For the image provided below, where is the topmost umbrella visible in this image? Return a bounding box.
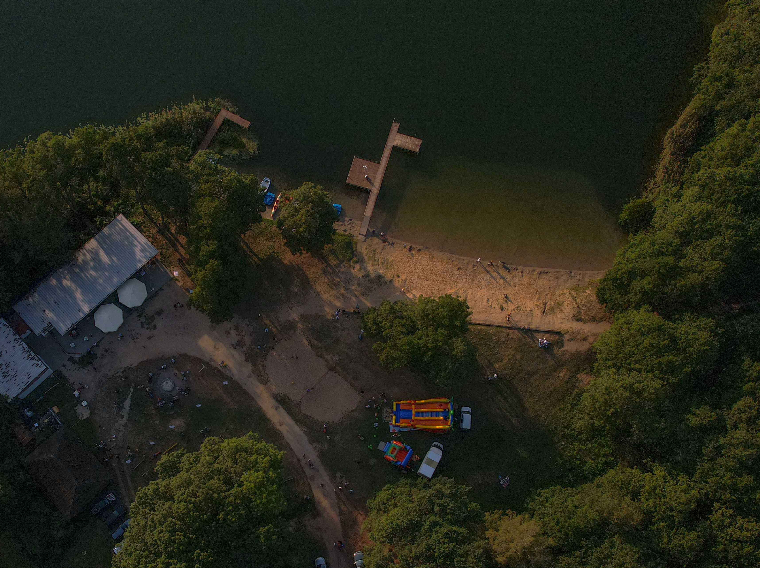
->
[118,279,148,307]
